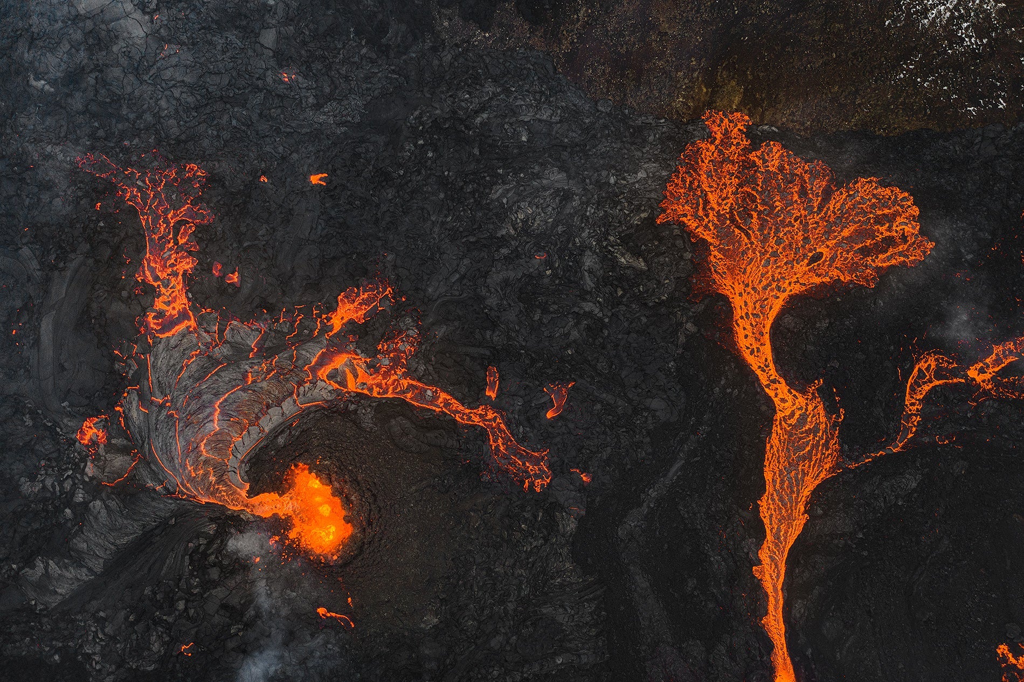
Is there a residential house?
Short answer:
No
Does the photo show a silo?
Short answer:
No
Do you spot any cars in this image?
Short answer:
No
